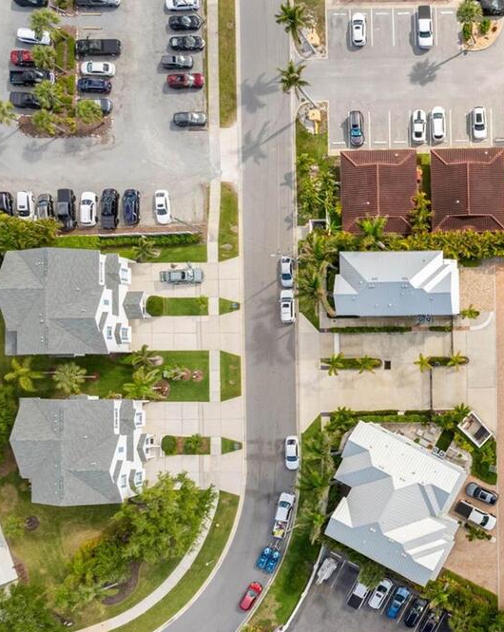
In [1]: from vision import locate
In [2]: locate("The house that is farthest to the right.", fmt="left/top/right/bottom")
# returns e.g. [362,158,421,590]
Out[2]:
[430,147,504,232]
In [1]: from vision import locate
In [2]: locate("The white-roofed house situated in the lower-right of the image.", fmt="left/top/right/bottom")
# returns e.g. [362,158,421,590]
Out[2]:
[325,421,465,584]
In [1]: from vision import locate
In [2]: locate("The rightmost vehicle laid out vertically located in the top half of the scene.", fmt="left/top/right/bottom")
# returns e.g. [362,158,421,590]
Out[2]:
[471,106,487,141]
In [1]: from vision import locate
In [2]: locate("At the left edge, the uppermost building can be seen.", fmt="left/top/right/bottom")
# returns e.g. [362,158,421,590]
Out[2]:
[0,247,152,353]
